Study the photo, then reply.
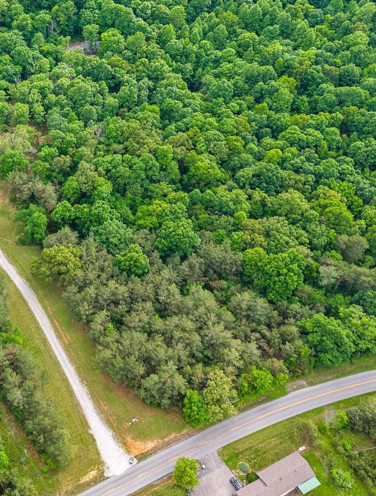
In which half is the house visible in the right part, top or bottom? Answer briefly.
bottom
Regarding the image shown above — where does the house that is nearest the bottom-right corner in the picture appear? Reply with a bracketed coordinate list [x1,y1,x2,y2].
[234,450,320,496]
